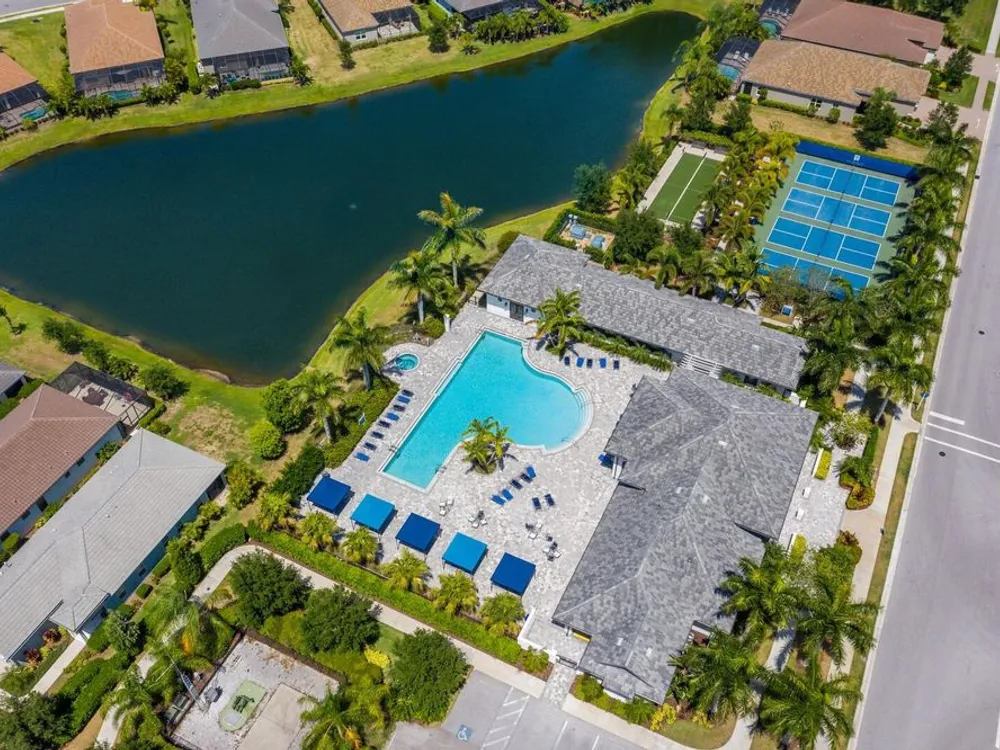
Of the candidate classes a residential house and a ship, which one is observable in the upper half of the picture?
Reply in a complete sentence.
You can see a residential house in the upper half of the picture.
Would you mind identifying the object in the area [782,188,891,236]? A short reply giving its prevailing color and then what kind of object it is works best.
blue sports court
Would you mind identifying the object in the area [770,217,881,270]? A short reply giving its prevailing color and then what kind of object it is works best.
blue sports court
